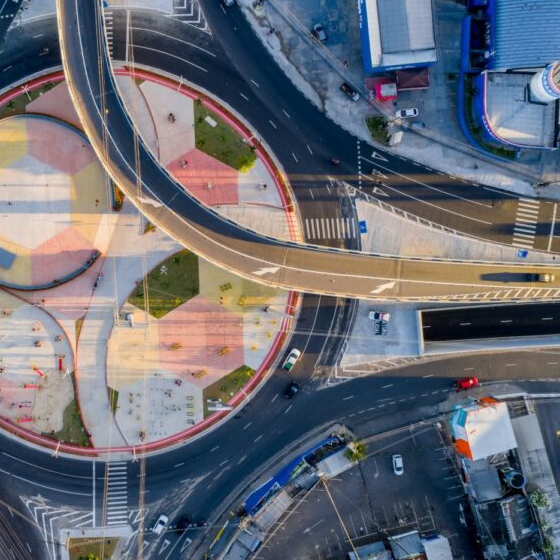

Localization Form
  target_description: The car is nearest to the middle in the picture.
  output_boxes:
[283,347,301,369]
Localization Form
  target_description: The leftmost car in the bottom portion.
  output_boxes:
[153,514,167,533]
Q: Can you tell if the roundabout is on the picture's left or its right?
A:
left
